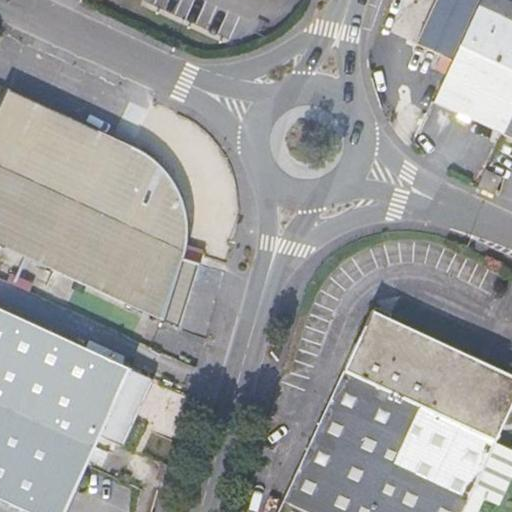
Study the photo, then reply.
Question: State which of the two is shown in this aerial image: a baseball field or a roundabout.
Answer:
roundabout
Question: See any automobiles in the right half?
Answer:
Yes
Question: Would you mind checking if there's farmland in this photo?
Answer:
No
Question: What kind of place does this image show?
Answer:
industrial area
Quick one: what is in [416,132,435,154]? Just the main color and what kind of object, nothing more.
white car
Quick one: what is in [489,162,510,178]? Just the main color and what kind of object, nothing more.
white car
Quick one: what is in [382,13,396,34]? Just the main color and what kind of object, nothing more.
white vehicle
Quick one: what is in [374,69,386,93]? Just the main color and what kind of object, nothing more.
white vehicle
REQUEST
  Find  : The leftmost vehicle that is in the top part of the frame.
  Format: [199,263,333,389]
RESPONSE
[85,112,110,130]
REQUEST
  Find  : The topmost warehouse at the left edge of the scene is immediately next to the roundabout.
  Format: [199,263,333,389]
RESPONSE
[0,89,190,321]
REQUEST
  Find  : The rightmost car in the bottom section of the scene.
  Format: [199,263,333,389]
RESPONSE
[269,425,289,442]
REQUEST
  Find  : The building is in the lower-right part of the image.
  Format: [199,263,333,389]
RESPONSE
[275,307,512,512]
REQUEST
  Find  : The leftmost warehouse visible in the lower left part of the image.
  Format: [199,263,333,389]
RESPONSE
[0,302,154,512]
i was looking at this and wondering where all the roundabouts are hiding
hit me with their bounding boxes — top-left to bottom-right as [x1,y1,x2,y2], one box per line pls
[178,20,440,266]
